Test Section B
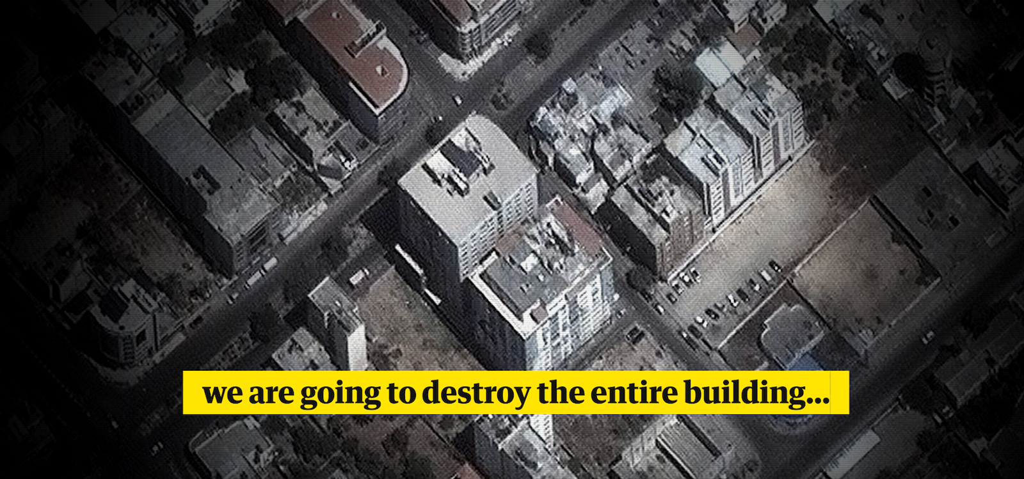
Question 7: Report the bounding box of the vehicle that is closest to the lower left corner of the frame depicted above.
[149,443,163,456]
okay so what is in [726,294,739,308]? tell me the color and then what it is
white vehicle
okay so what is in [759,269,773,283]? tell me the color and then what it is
white car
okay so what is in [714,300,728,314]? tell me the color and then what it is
gray car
